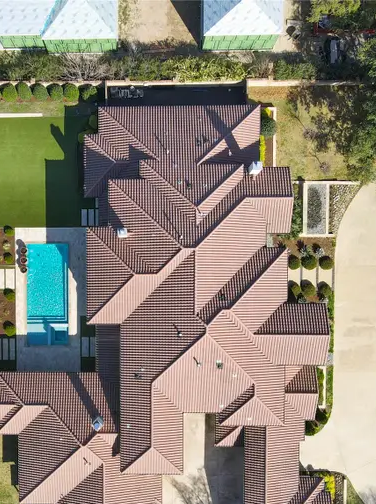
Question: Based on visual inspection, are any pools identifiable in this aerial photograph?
Yes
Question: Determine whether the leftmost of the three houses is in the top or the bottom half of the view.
top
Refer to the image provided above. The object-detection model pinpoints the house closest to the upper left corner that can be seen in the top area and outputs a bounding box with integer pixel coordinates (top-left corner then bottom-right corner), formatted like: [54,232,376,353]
[0,0,118,54]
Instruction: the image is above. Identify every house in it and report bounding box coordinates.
[0,0,118,54]
[0,103,332,504]
[200,0,283,49]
